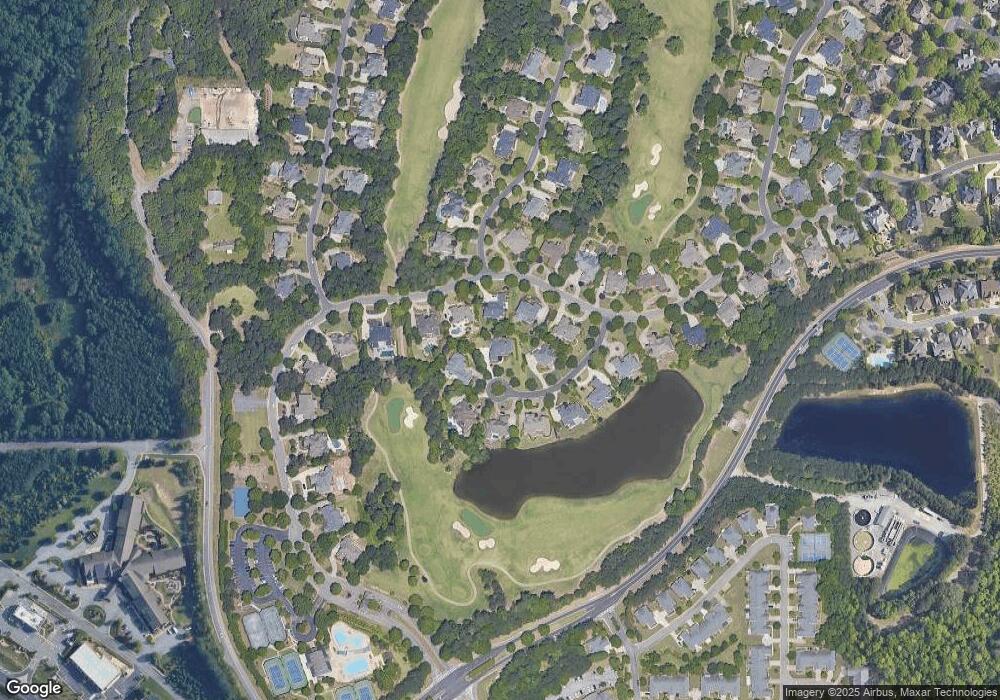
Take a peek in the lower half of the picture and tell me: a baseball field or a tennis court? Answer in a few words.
tennis court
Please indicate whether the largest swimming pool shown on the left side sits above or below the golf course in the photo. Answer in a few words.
below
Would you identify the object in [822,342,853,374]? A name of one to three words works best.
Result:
tennis court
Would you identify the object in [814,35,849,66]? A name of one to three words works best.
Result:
house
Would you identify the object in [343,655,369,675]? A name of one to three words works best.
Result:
swimming pool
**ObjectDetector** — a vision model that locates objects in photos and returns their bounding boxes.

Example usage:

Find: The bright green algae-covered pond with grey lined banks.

[880,527,942,597]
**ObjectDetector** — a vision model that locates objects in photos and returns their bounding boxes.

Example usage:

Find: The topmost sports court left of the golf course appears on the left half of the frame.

[233,487,249,517]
